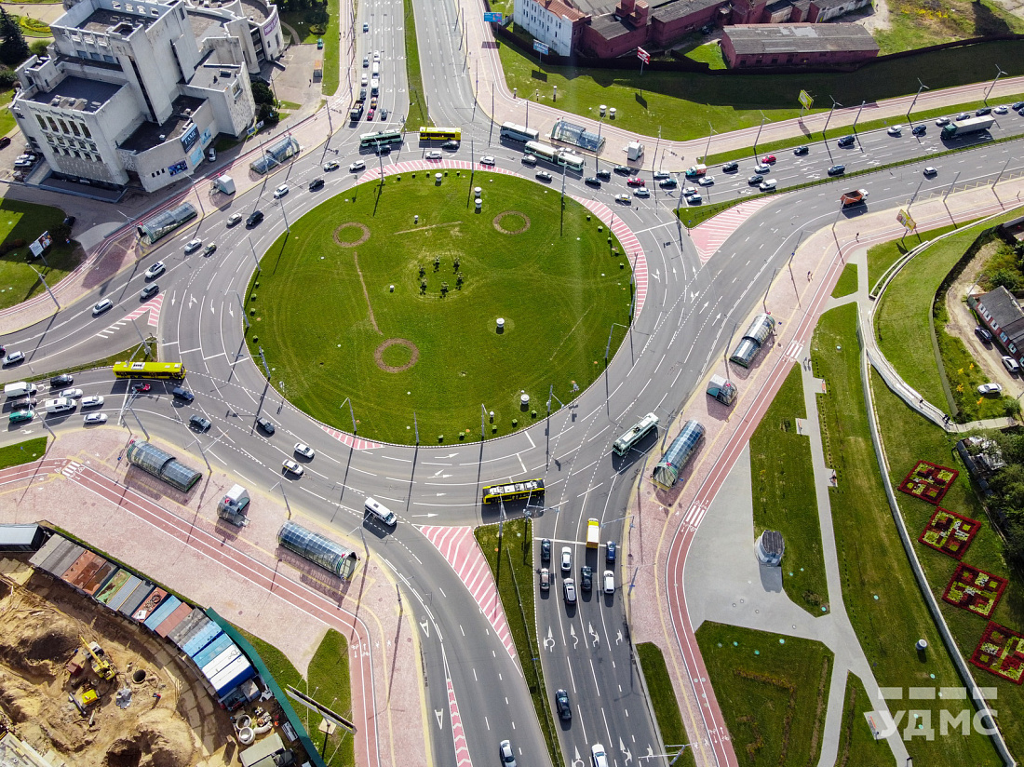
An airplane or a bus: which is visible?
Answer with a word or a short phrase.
bus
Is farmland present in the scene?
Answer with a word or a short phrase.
No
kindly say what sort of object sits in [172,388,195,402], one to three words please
car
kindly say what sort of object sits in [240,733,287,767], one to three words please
shipping container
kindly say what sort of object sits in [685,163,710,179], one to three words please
vehicle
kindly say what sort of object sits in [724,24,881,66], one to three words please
building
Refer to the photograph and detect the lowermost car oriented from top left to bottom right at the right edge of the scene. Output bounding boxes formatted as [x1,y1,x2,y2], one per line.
[999,356,1021,373]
